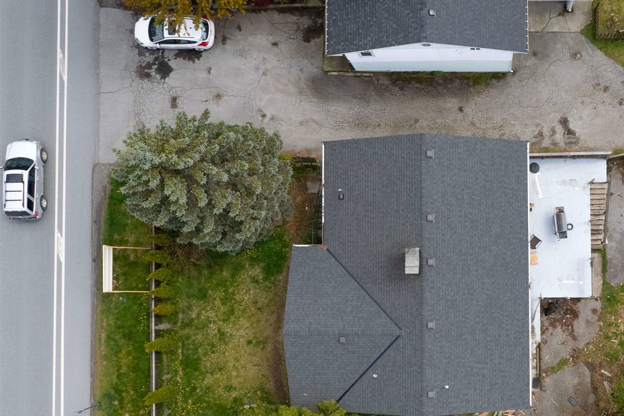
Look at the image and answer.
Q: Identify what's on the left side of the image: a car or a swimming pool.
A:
car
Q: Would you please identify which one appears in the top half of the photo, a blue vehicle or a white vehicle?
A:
white vehicle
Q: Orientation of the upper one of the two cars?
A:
from side to side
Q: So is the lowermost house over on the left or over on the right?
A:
right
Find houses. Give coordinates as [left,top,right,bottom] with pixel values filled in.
[318,0,530,74]
[283,136,533,416]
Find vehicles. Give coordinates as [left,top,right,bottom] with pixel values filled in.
[1,139,48,220]
[135,9,216,49]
